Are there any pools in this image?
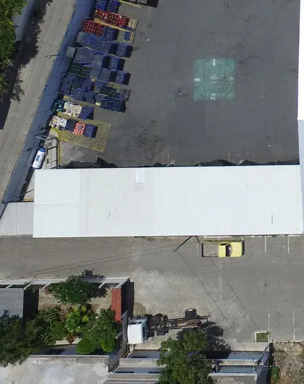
No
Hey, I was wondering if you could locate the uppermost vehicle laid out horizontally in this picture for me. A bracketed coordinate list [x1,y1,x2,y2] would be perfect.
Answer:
[202,240,245,258]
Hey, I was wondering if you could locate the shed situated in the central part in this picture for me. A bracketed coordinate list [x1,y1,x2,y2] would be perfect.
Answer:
[34,157,304,237]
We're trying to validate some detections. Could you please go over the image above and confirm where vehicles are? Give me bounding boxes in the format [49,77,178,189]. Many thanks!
[202,240,245,258]
[28,141,50,173]
[130,310,214,349]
